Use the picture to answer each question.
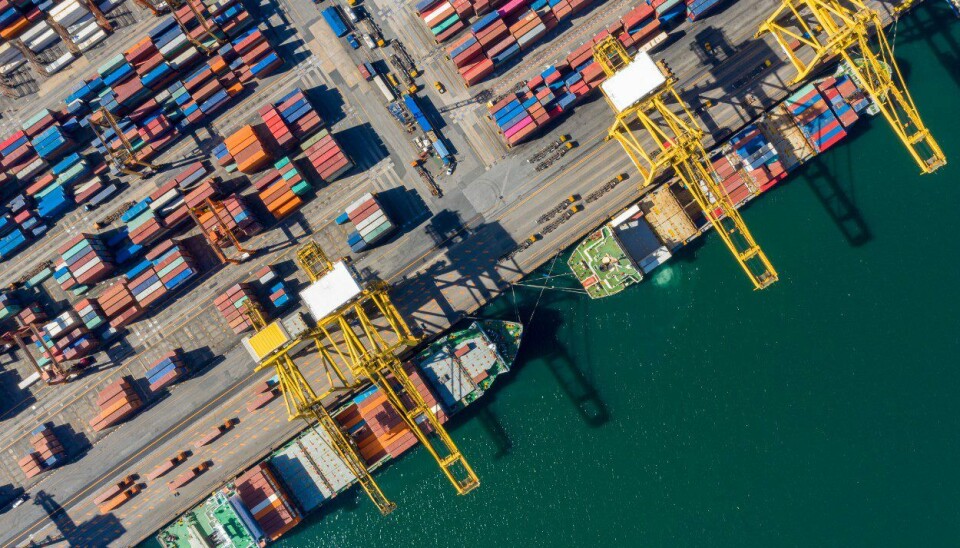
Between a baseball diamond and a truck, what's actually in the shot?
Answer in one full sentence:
This aerial view contains a truck.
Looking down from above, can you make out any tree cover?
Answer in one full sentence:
No, the scene doesn't show any tree cover.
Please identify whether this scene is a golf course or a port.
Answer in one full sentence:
The area seen from above is a port.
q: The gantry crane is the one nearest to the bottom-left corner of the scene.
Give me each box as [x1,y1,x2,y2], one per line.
[9,321,90,384]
